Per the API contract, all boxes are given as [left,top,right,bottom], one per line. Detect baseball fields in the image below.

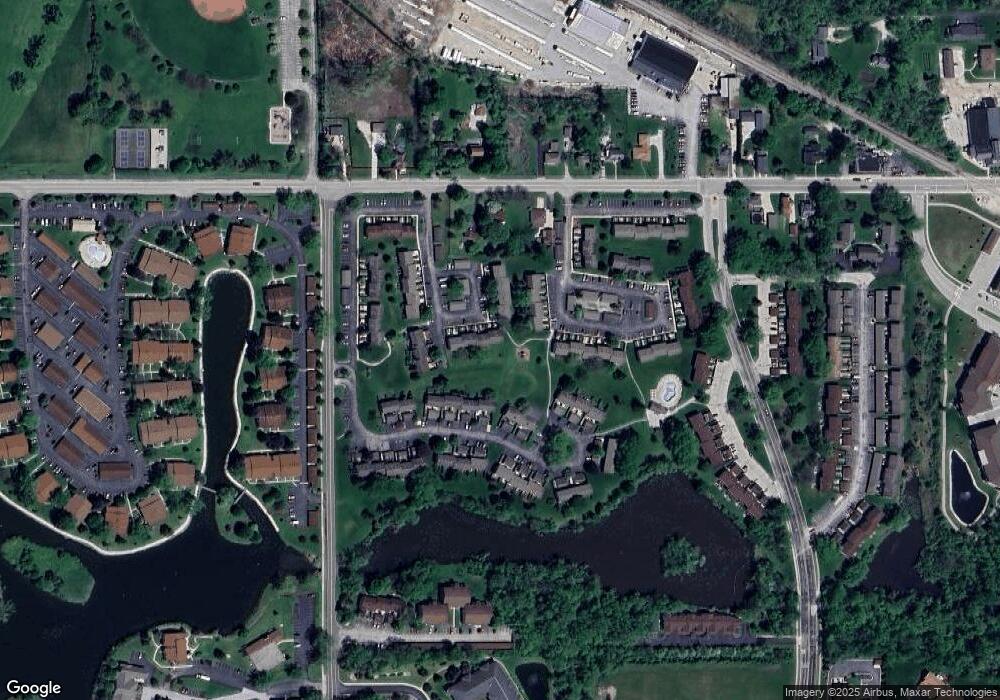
[129,0,277,78]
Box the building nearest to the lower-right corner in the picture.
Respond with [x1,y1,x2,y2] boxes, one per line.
[913,671,951,700]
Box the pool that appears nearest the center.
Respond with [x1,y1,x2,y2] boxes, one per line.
[647,375,683,427]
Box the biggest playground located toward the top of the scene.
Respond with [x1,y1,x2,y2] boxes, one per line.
[270,105,291,144]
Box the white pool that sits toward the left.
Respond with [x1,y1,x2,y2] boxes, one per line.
[80,234,111,268]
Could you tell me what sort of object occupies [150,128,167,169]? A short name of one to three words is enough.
basketball court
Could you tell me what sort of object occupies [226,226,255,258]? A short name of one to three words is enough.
house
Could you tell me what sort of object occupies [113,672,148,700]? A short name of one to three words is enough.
building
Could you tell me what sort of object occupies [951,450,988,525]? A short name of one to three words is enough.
pond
